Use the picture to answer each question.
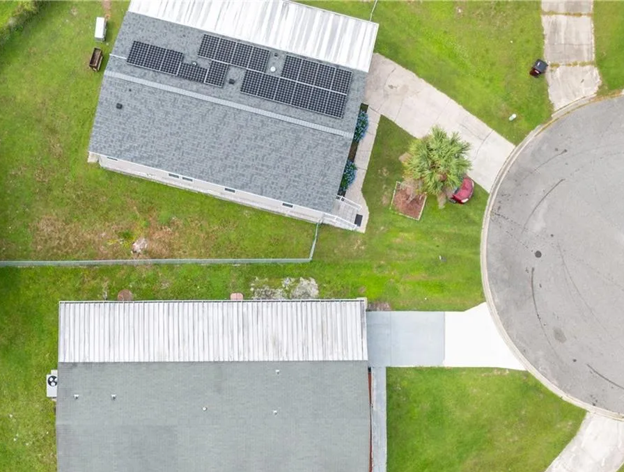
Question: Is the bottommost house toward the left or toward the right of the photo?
left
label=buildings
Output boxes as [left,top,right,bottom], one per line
[56,299,372,472]
[91,0,380,222]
